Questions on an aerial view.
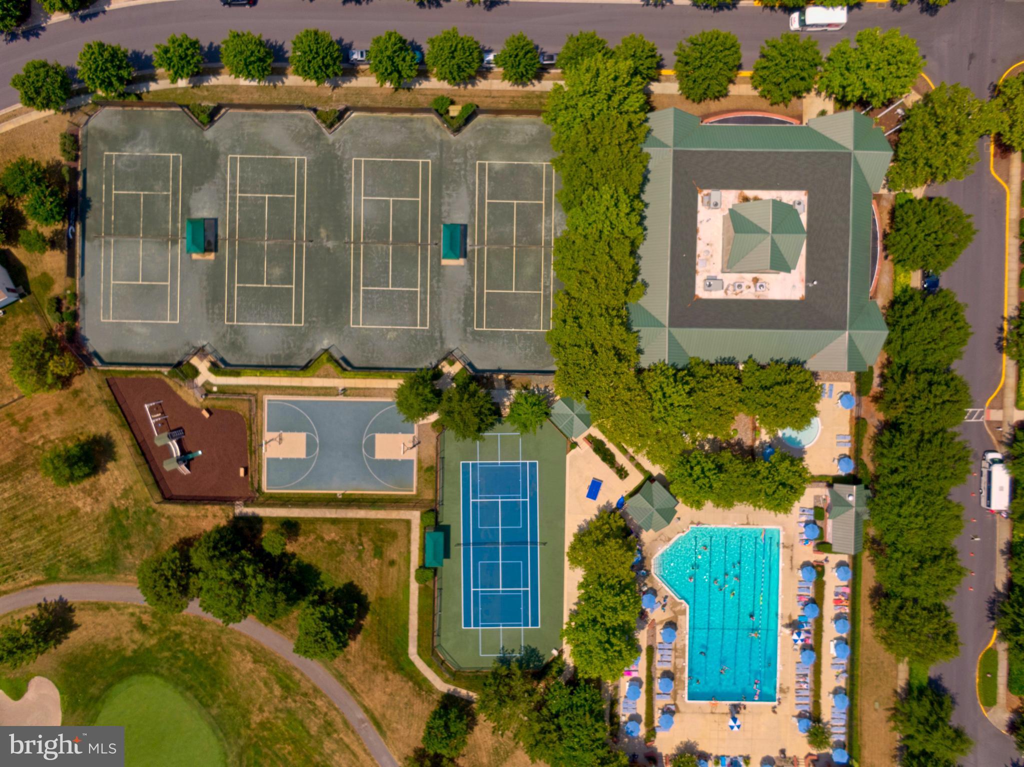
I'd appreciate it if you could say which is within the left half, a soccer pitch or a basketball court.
basketball court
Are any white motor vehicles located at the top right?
Yes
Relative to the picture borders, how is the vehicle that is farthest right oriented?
from top to bottom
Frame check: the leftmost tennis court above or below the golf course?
above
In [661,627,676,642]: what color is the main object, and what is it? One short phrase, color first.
blue umbrella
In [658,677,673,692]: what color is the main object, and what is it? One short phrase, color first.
blue umbrella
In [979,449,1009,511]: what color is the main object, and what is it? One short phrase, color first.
white vehicle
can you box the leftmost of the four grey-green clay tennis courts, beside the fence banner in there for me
[80,108,205,366]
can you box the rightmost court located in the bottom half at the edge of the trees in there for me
[435,419,567,671]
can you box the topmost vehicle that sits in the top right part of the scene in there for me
[788,6,847,32]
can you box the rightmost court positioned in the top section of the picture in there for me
[450,117,564,373]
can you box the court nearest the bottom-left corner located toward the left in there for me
[263,396,418,494]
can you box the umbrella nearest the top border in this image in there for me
[839,394,854,408]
